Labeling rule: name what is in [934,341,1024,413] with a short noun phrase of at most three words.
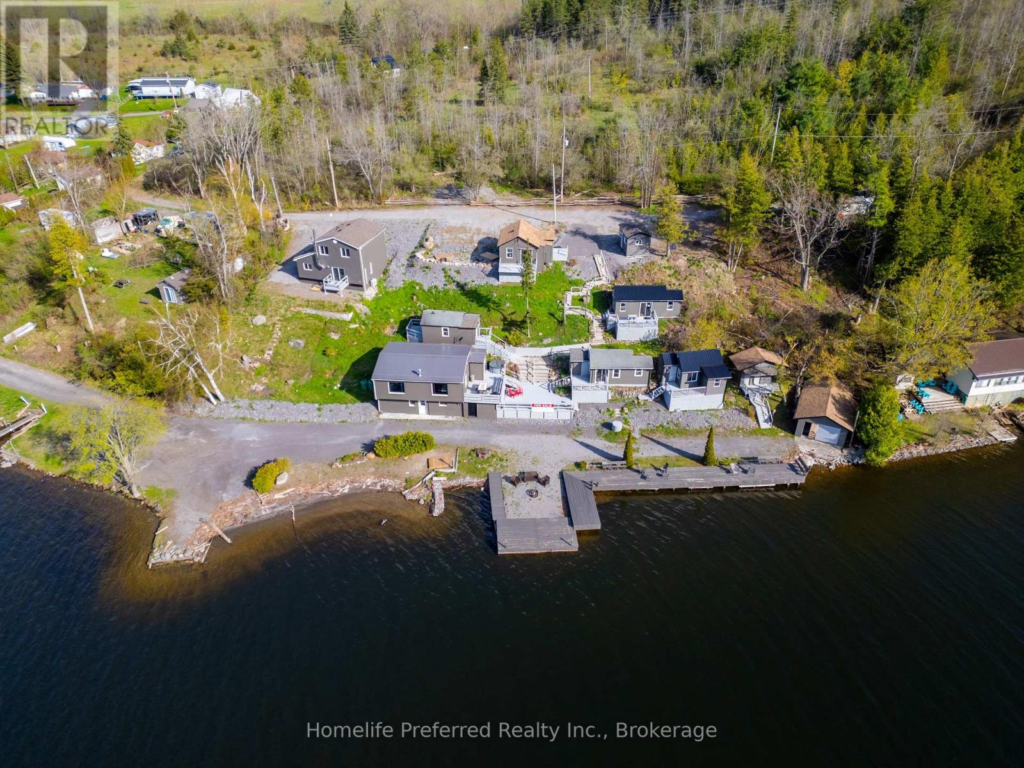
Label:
house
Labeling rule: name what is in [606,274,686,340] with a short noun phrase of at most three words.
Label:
house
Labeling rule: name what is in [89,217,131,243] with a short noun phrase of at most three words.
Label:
shed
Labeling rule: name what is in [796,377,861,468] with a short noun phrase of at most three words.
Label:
building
